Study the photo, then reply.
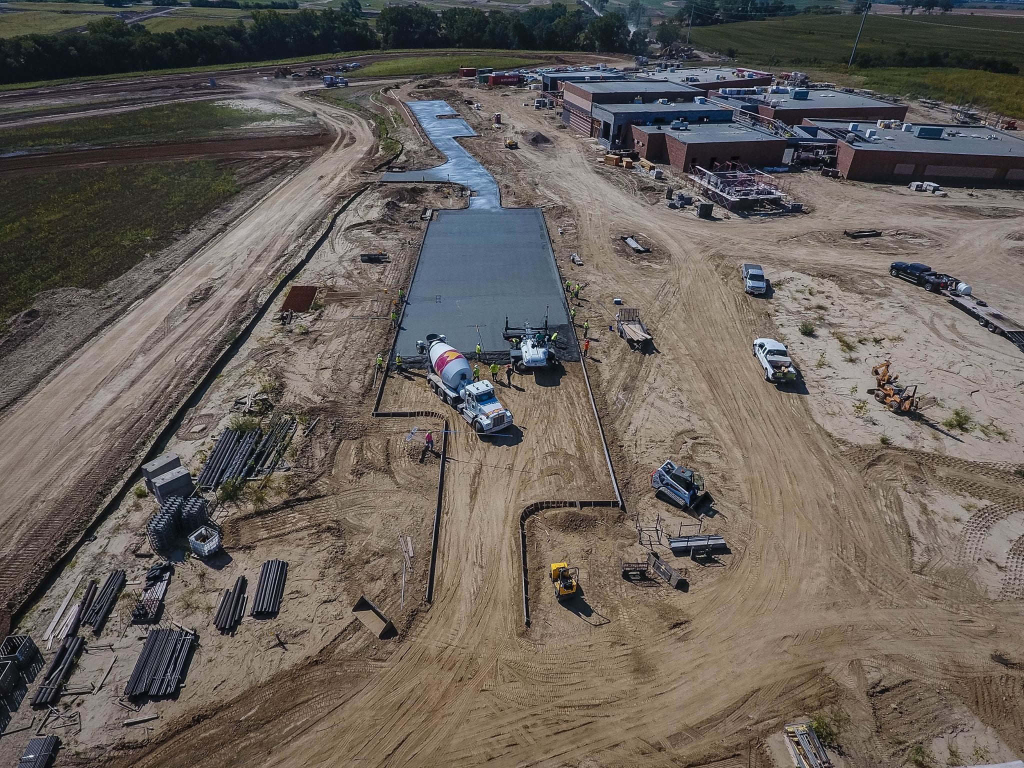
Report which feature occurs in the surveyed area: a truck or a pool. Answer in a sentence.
There is a truck in the scene.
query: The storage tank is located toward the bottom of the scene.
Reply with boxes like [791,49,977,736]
[188,525,222,558]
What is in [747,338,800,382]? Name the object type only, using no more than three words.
truck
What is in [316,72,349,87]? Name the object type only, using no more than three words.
vehicle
